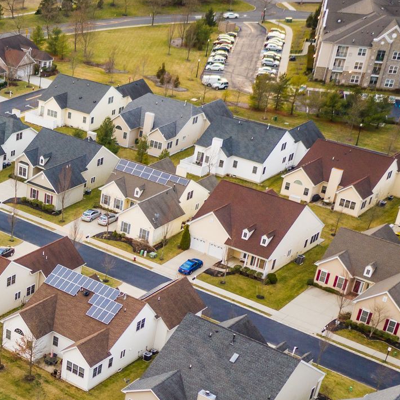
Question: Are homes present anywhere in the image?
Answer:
Yes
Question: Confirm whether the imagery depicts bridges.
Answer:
No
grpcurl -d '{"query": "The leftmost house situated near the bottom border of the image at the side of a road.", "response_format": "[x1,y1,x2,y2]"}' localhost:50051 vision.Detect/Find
[0,262,207,392]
